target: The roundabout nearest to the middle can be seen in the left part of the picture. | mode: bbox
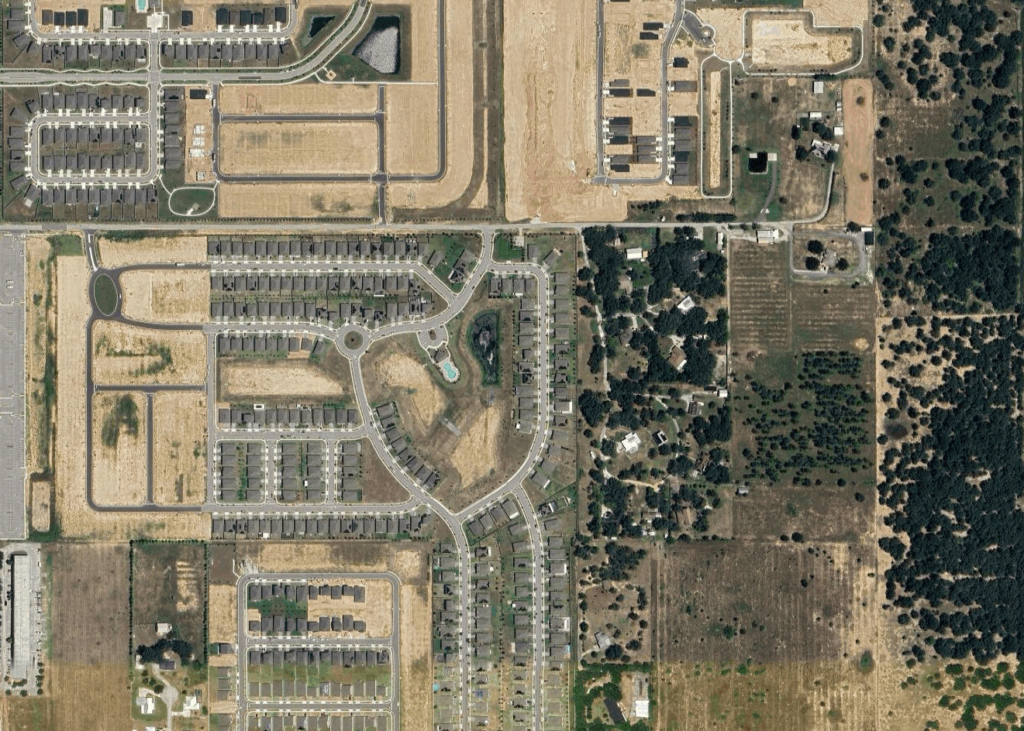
[338,324,369,355]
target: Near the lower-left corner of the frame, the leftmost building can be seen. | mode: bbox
[14,555,29,680]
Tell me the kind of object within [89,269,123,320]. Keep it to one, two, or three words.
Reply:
roundabout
